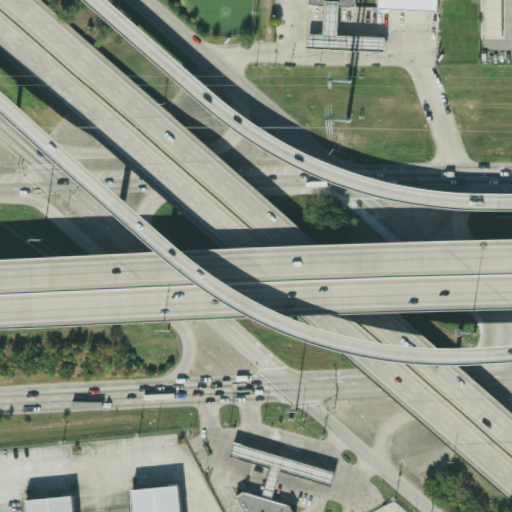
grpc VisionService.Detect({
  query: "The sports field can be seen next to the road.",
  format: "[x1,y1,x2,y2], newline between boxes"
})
[186,0,250,36]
